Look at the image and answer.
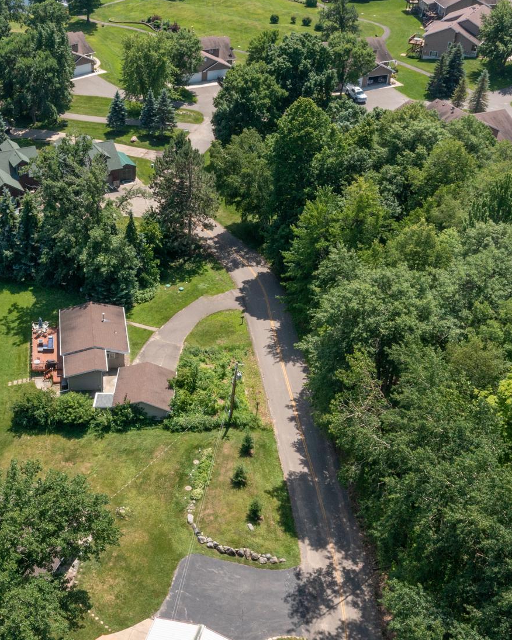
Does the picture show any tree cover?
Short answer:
Yes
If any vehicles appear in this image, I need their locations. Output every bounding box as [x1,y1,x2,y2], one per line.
[349,88,364,102]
